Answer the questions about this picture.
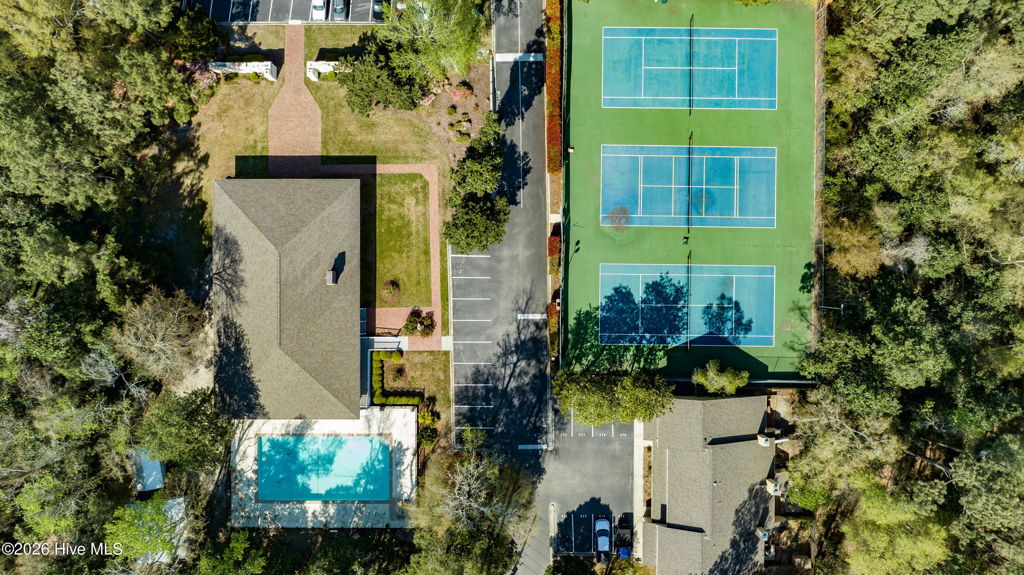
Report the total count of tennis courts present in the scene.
3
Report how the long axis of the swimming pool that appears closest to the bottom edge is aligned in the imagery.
horizontally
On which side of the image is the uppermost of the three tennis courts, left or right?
right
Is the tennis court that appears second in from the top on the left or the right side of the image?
right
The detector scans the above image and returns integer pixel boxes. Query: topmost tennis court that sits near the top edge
[602,17,778,116]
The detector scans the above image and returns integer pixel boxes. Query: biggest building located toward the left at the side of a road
[212,178,408,419]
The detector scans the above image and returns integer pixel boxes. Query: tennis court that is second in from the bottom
[600,137,777,234]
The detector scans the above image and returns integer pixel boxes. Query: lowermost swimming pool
[255,433,393,504]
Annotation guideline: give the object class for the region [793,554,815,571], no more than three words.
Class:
shed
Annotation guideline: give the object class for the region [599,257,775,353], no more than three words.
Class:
tennis court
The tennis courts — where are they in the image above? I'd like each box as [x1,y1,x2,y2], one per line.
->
[600,137,777,234]
[599,257,775,353]
[602,17,778,116]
